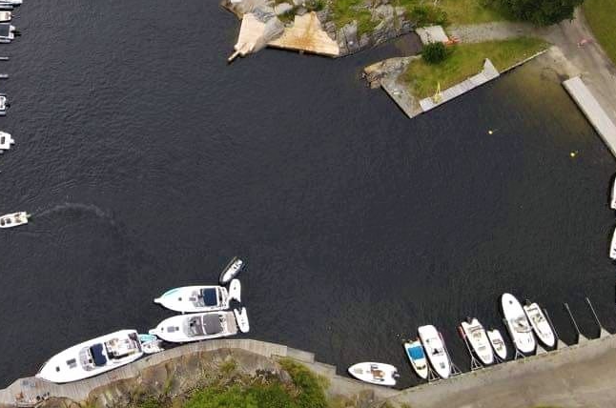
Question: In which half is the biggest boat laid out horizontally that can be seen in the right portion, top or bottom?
bottom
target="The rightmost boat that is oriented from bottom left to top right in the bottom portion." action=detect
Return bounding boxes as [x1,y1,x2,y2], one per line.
[221,255,246,283]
